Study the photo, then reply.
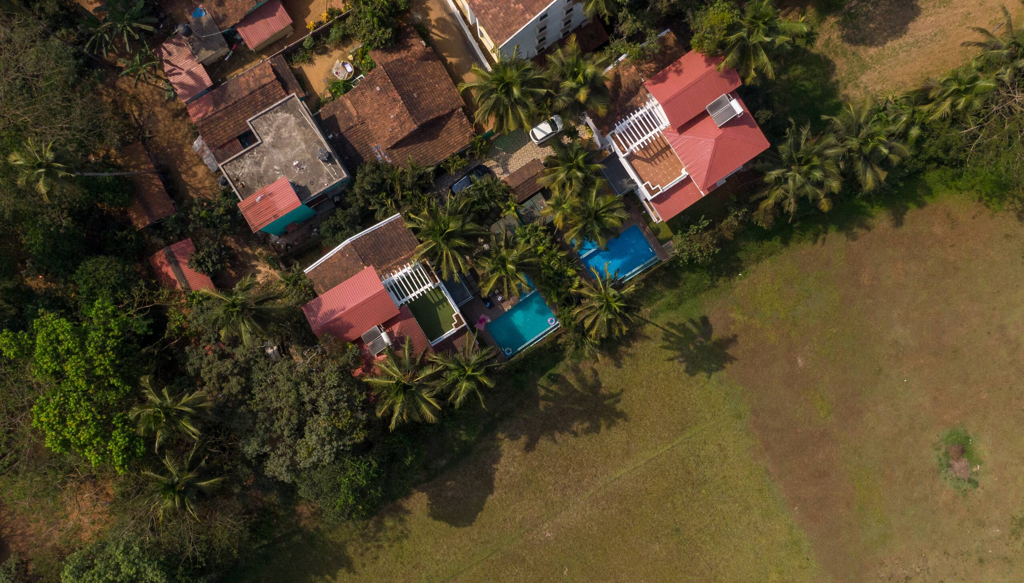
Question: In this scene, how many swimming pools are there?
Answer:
2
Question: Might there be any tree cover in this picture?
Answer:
Yes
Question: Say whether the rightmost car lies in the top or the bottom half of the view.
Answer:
top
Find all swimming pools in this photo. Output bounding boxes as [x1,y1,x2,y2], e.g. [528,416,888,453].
[572,223,661,294]
[484,275,559,360]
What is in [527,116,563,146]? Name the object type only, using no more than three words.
car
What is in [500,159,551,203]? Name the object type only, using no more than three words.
shed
